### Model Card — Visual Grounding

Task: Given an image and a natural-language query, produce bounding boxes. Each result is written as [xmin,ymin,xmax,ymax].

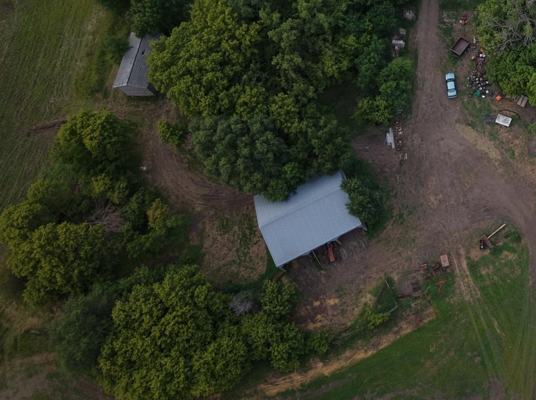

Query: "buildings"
[254,158,368,270]
[115,27,168,95]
